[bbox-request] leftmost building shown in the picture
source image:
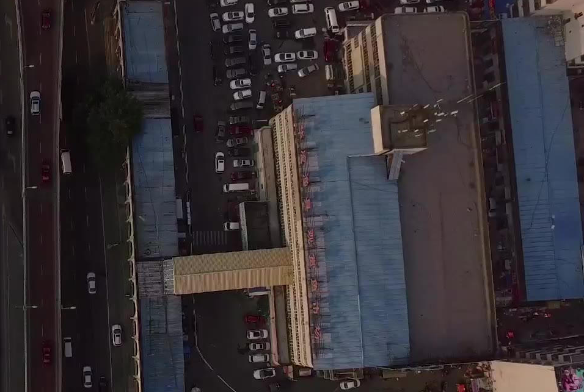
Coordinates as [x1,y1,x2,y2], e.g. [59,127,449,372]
[115,0,186,392]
